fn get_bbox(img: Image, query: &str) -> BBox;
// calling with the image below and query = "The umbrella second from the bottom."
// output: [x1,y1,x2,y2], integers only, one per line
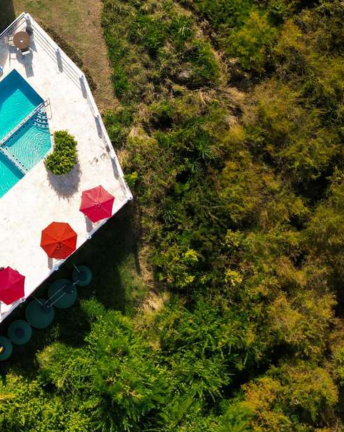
[40,221,77,258]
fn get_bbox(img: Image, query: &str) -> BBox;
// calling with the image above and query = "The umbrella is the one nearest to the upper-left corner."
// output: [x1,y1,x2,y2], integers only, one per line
[78,185,114,223]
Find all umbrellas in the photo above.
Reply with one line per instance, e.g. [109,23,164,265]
[0,266,25,305]
[40,221,77,258]
[78,185,114,223]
